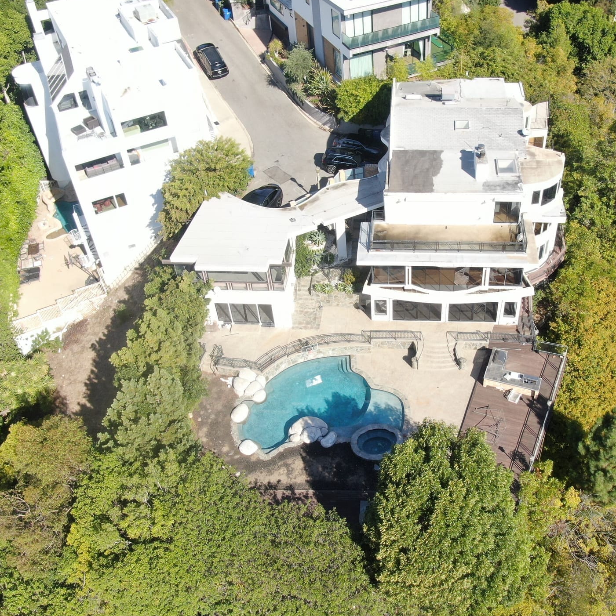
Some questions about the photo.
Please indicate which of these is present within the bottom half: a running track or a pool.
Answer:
pool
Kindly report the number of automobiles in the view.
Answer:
4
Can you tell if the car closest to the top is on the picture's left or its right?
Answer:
left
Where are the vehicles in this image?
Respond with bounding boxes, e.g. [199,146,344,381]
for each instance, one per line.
[237,184,294,206]
[195,46,231,87]
[329,128,384,156]
[319,144,380,175]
